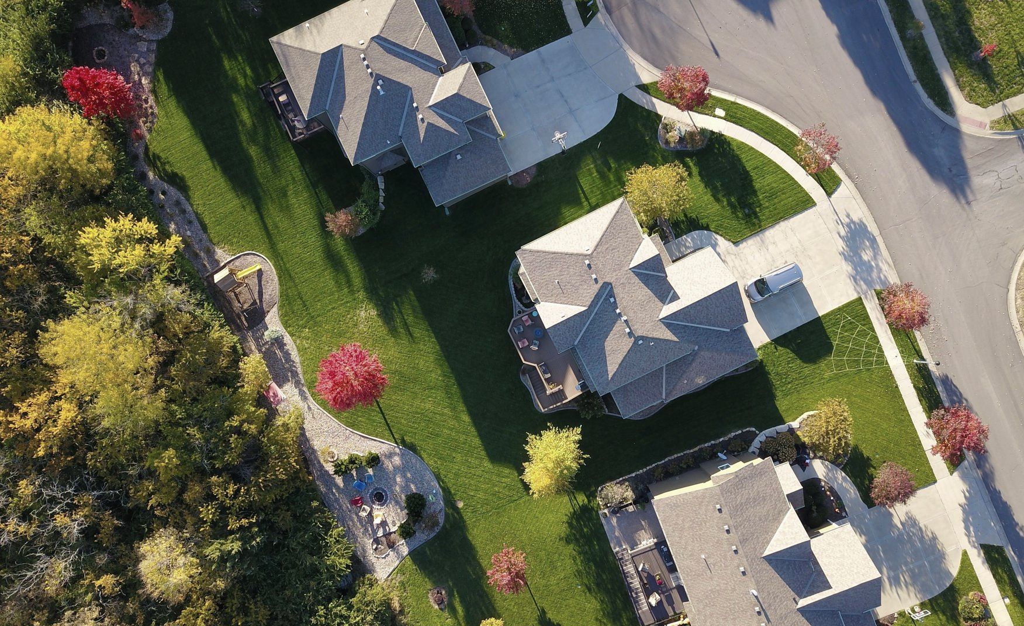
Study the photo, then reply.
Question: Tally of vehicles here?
1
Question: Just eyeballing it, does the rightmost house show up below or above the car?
below it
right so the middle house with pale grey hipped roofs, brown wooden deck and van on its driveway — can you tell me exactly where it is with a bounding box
[513,196,759,420]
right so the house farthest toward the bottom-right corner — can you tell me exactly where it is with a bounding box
[646,449,882,626]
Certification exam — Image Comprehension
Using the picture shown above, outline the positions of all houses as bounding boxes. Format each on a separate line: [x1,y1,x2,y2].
[513,196,759,420]
[268,0,511,212]
[646,449,882,626]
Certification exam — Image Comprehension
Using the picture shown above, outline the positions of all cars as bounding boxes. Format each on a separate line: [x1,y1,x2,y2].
[744,263,807,302]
